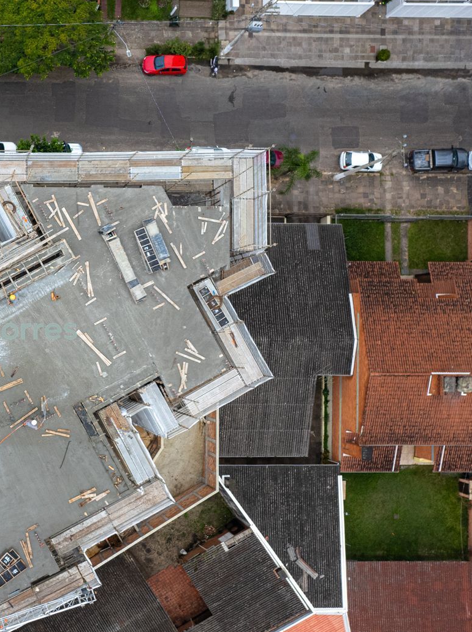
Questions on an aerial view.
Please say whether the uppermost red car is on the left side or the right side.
left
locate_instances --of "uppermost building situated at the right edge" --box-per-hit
[333,261,472,473]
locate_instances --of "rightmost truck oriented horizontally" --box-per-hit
[404,146,467,172]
